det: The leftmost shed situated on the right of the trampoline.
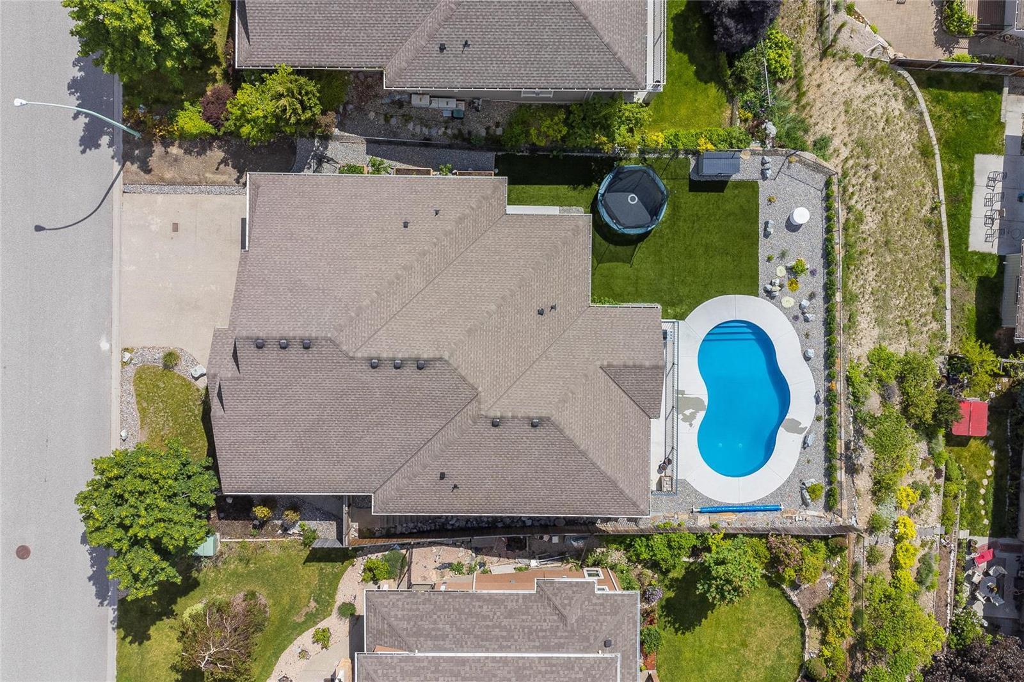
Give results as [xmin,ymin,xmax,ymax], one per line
[701,149,744,174]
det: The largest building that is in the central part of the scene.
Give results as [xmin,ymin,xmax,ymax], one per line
[207,172,665,519]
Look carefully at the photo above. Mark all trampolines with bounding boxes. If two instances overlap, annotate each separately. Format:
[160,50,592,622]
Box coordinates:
[595,163,672,234]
